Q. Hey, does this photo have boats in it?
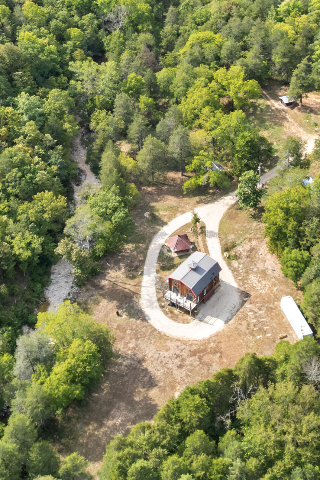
No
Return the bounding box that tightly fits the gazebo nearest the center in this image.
[167,233,193,257]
